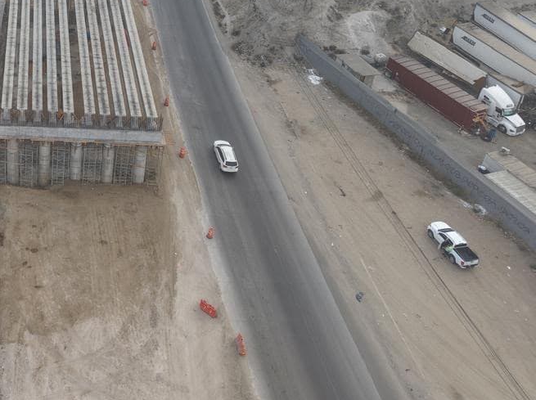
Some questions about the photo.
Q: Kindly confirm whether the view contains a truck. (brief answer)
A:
Yes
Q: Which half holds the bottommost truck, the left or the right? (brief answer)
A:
right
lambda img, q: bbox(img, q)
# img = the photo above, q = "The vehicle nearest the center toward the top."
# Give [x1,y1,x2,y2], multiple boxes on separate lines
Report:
[212,138,242,171]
